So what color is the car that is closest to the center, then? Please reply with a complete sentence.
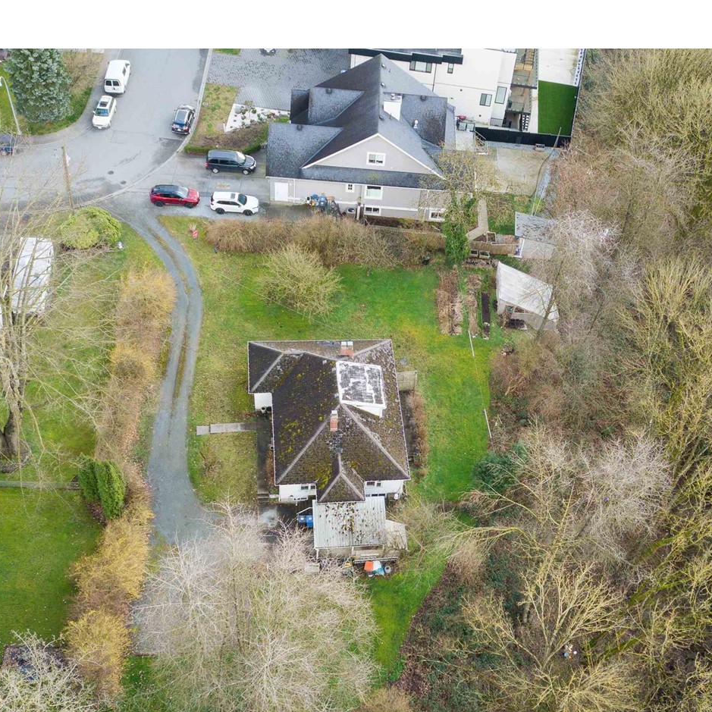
The car that is closest to the center looks white in the image.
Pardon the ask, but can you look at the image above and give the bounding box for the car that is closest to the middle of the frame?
[209,191,259,217]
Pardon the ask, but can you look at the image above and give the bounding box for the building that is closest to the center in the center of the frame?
[246,340,409,513]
